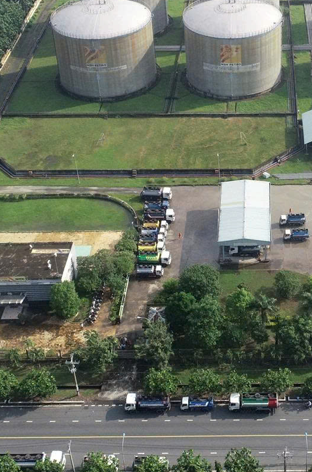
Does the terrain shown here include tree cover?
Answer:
Yes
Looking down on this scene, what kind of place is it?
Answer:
industrial area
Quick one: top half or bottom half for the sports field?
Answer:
top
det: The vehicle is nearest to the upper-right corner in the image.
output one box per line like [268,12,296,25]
[281,212,305,225]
